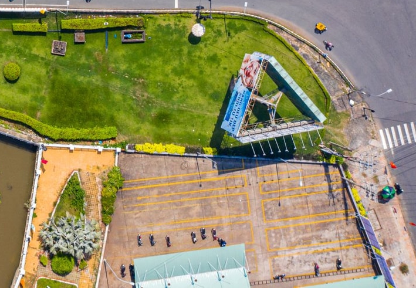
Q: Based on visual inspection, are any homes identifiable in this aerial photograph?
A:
No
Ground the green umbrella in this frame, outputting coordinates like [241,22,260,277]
[381,186,395,199]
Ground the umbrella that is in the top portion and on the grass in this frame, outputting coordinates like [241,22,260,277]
[190,23,206,36]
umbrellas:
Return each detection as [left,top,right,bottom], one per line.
[190,23,206,36]
[381,186,395,199]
